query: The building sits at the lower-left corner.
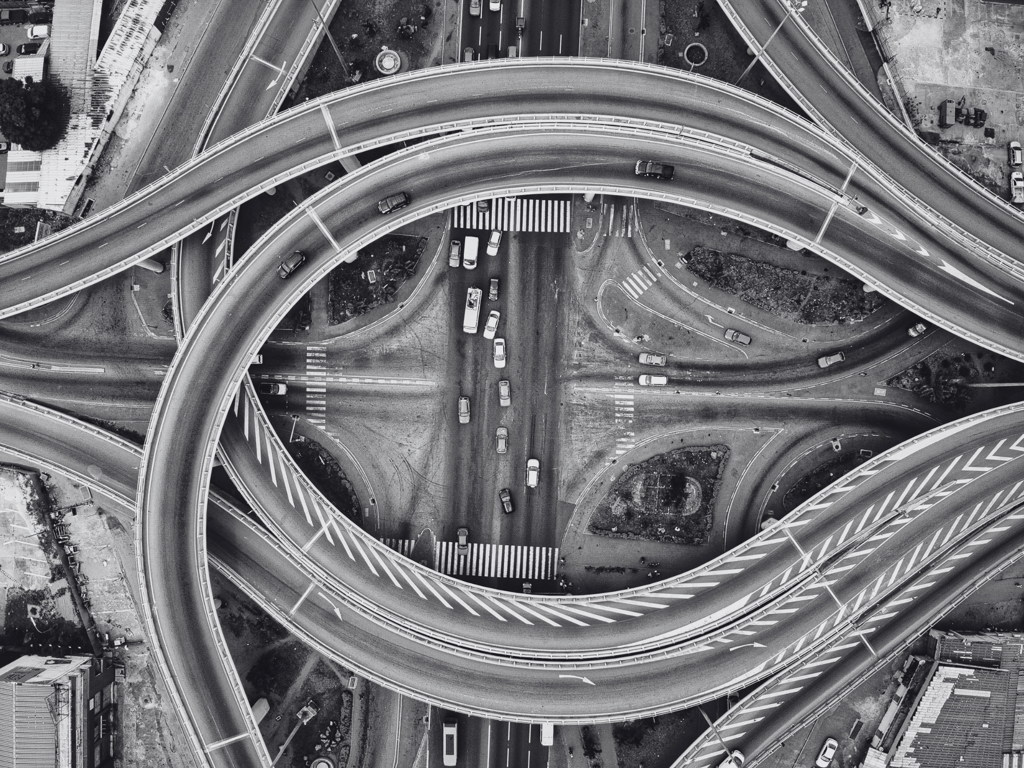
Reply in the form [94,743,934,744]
[0,657,117,768]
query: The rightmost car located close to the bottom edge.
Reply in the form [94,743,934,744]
[814,734,838,768]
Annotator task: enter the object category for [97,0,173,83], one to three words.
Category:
shed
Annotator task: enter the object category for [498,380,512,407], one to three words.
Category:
car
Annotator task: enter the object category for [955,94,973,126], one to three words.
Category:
work vehicle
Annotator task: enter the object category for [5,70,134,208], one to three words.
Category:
shed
